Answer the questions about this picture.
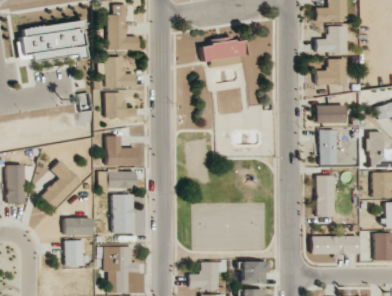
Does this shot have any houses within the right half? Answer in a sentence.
Yes, I can see a house within the right half.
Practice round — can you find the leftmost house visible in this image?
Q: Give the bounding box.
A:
[3,164,24,204]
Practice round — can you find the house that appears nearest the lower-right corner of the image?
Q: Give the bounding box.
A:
[370,232,392,260]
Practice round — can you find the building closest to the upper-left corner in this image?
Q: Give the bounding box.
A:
[16,20,88,61]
